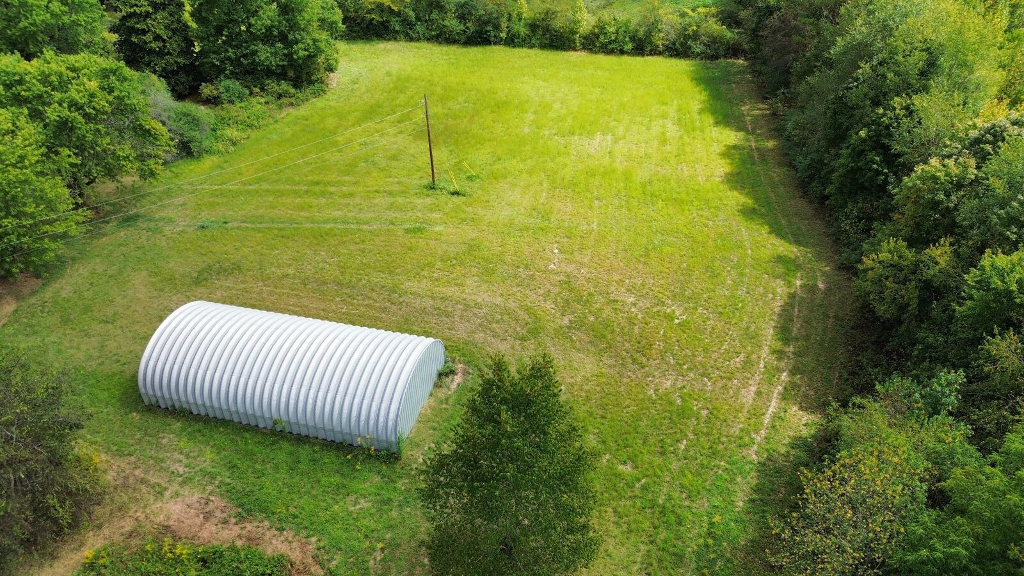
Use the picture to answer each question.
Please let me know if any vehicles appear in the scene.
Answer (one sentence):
No, the picture doesn't show any vehicle.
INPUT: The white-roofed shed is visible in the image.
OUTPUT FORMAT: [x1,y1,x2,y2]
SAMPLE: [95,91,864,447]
[136,301,448,462]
